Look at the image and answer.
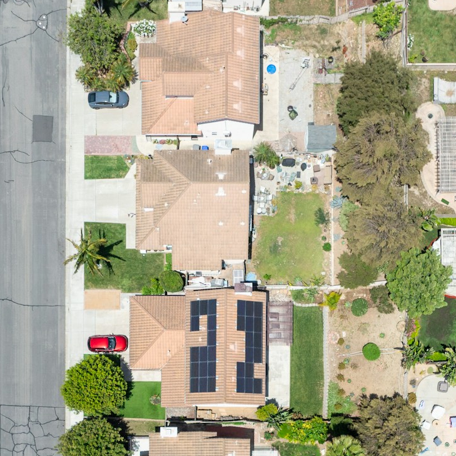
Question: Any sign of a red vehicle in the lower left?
Yes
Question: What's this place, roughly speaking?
residential area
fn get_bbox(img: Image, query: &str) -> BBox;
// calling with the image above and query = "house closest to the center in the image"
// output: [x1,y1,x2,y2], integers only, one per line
[136,139,252,272]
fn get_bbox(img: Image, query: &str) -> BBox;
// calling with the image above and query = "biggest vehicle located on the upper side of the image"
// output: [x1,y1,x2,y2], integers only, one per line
[88,87,129,109]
